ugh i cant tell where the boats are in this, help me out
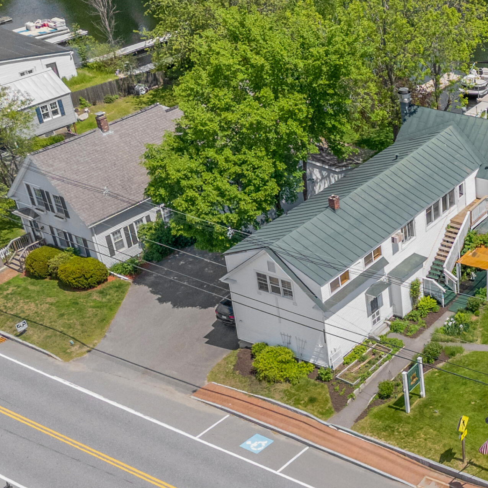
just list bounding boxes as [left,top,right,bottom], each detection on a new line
[446,47,488,93]
[2,15,73,37]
